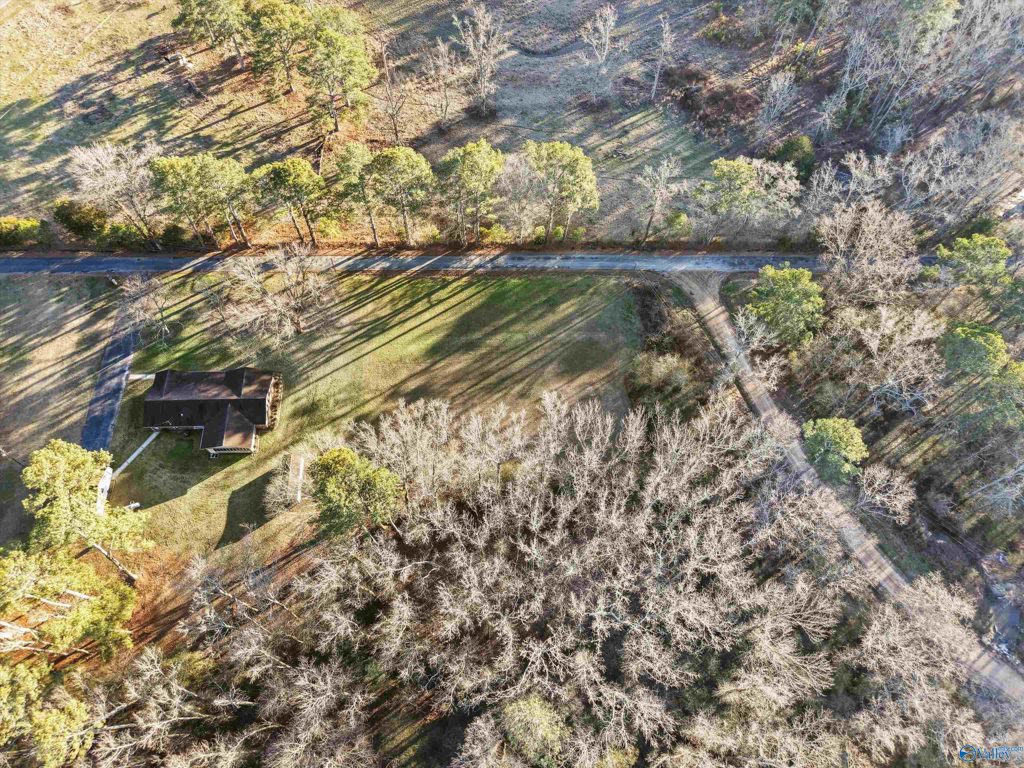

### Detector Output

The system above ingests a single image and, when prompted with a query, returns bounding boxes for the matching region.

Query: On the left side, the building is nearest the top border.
[142,363,278,455]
